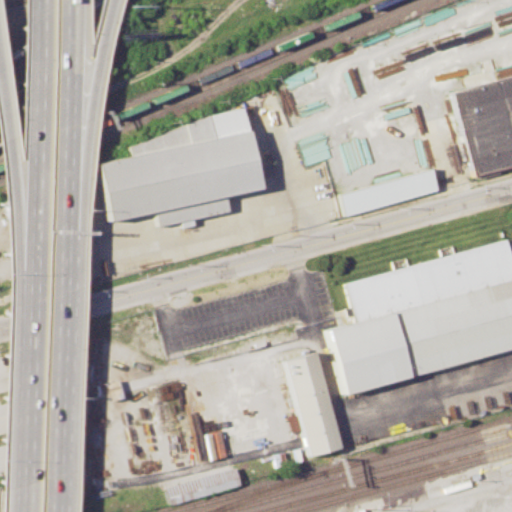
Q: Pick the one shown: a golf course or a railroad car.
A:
railroad car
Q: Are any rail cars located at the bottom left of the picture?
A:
No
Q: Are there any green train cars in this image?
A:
Yes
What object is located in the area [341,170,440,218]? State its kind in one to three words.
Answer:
building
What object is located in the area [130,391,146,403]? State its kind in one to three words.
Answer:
vehicle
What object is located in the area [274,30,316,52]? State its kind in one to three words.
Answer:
rail car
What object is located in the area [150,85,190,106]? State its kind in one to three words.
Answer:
rail car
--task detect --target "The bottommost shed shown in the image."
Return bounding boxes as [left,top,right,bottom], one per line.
[164,470,242,505]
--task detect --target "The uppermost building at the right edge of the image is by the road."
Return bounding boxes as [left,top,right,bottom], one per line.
[452,78,512,176]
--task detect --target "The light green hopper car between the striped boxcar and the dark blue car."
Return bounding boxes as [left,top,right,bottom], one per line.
[321,12,362,31]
